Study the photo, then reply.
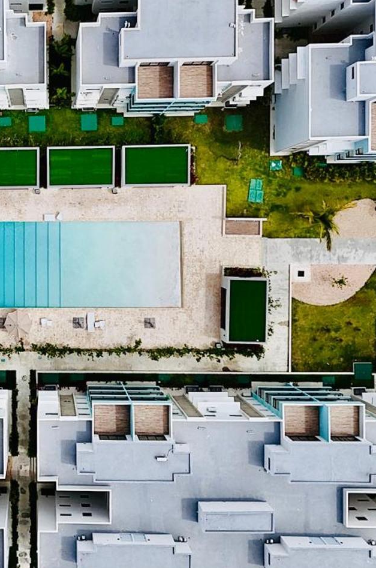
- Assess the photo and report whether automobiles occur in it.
No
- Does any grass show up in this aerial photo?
Yes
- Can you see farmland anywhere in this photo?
No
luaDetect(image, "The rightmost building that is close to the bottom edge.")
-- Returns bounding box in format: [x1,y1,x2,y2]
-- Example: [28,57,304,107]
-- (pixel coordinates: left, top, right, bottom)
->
[34,379,376,568]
